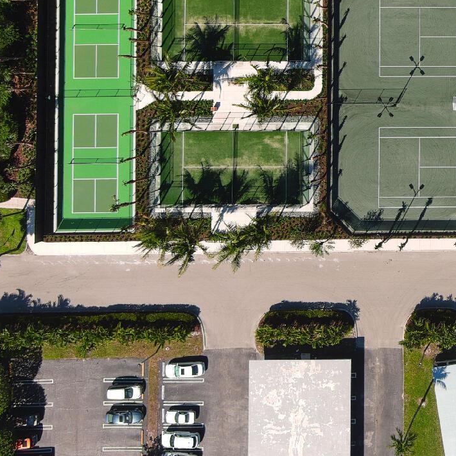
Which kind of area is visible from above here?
sports ground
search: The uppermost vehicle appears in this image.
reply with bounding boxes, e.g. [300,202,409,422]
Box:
[168,361,207,379]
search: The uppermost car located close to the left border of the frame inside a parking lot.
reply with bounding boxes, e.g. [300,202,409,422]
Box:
[10,413,46,431]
